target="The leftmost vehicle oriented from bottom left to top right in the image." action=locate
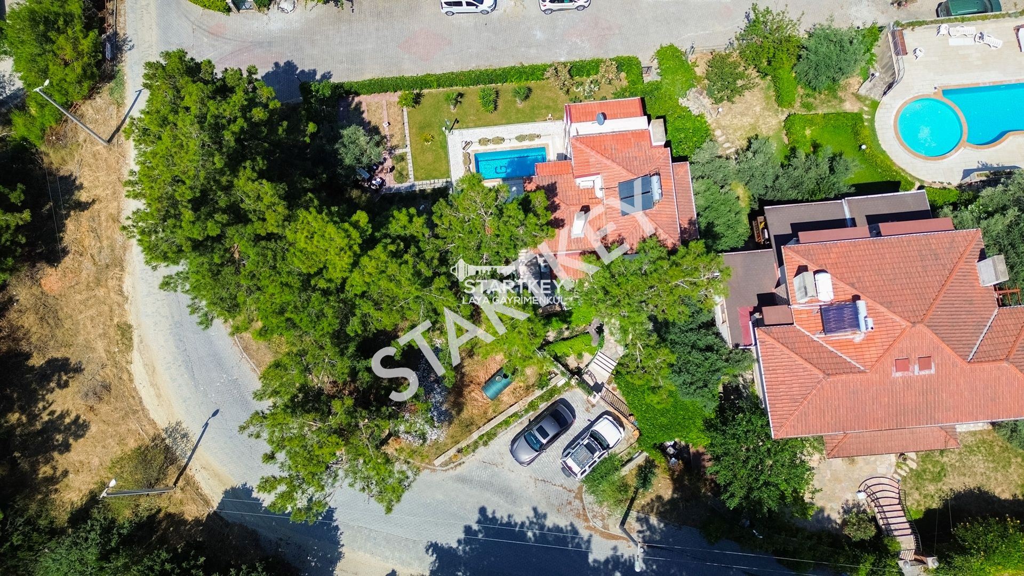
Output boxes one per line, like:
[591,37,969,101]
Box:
[509,396,578,468]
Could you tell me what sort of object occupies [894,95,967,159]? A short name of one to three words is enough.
swimming pool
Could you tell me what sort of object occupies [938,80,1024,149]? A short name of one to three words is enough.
swimming pool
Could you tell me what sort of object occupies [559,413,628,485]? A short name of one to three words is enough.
car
